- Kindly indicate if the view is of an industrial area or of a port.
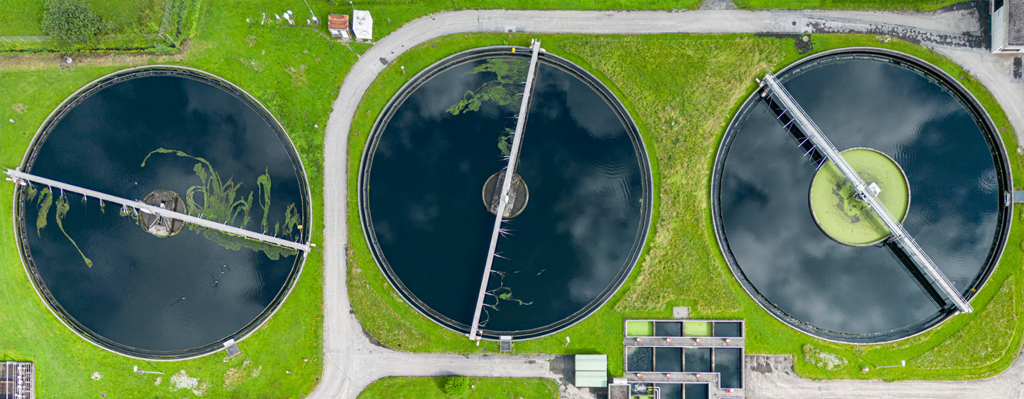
industrial area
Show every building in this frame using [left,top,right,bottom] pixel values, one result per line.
[328,14,352,42]
[353,10,375,45]
[575,356,607,388]
[988,0,1024,52]
[608,385,630,399]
